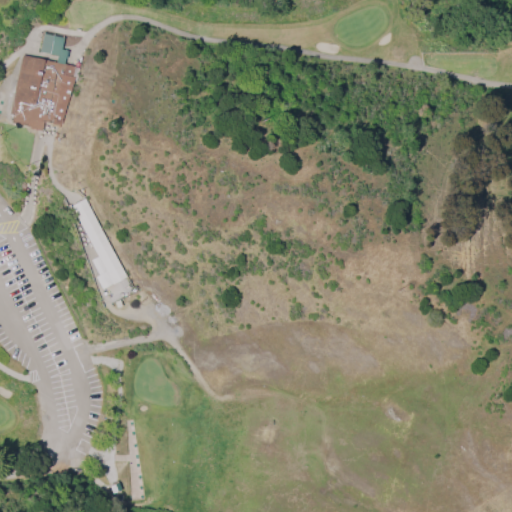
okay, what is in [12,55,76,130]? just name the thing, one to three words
building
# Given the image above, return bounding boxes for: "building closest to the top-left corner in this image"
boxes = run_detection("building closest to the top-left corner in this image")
[42,32,70,64]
